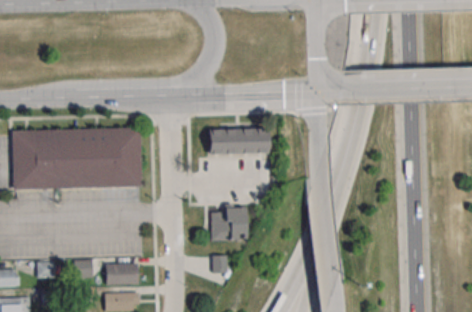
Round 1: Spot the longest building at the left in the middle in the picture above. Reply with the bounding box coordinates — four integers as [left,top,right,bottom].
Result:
[13,129,141,188]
